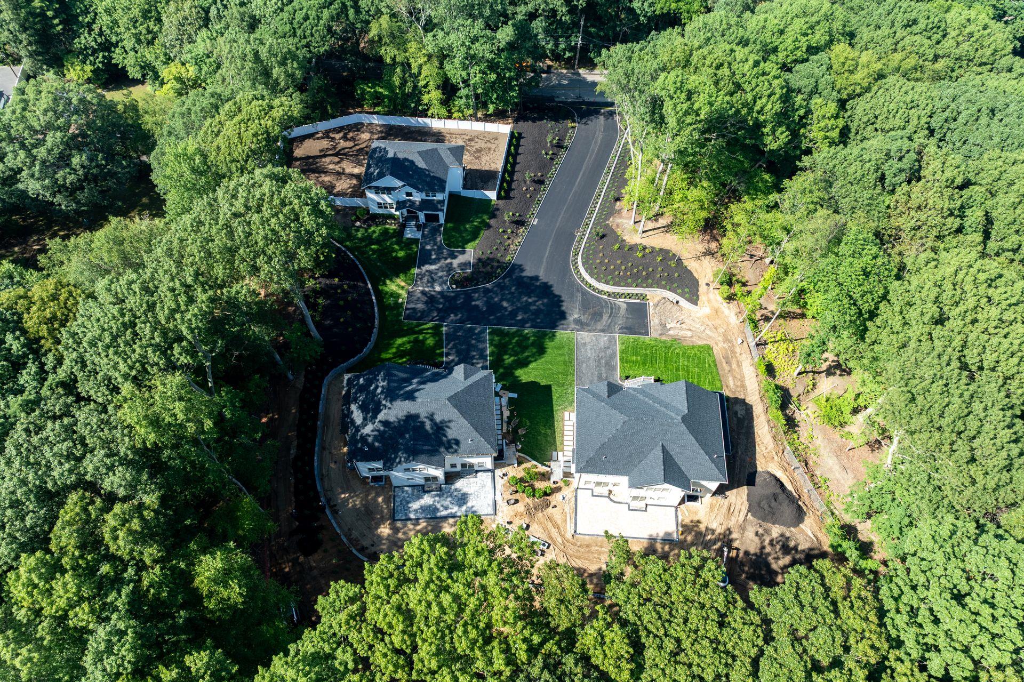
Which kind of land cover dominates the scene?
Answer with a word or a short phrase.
trees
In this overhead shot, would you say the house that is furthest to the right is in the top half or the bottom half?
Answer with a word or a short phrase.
bottom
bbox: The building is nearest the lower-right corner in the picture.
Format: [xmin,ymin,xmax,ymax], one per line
[573,377,733,517]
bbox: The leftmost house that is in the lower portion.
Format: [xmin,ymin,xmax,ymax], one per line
[341,360,500,497]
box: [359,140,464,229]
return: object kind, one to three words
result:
house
